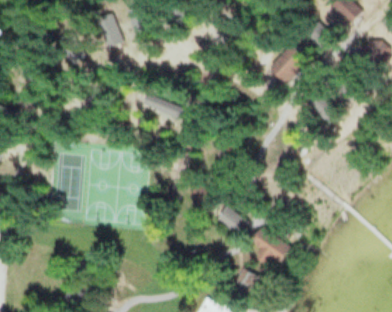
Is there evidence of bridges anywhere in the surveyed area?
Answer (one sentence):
No, I can see no bridge in this picture.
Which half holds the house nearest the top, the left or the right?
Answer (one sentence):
The house nearest the top appears in the right half of the scene.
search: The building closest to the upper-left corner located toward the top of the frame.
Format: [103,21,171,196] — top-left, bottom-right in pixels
[100,13,126,47]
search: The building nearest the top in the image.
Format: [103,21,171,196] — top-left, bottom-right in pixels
[333,0,363,26]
